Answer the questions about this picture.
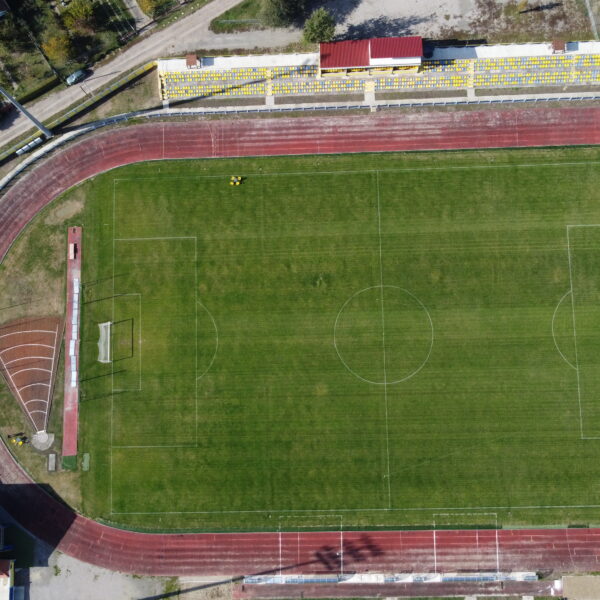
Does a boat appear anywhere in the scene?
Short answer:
No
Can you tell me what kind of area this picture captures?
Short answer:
sports ground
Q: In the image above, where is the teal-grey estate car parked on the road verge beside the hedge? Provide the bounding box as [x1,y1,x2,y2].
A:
[65,66,87,84]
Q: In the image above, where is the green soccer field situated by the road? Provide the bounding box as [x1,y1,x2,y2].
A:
[104,158,600,519]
